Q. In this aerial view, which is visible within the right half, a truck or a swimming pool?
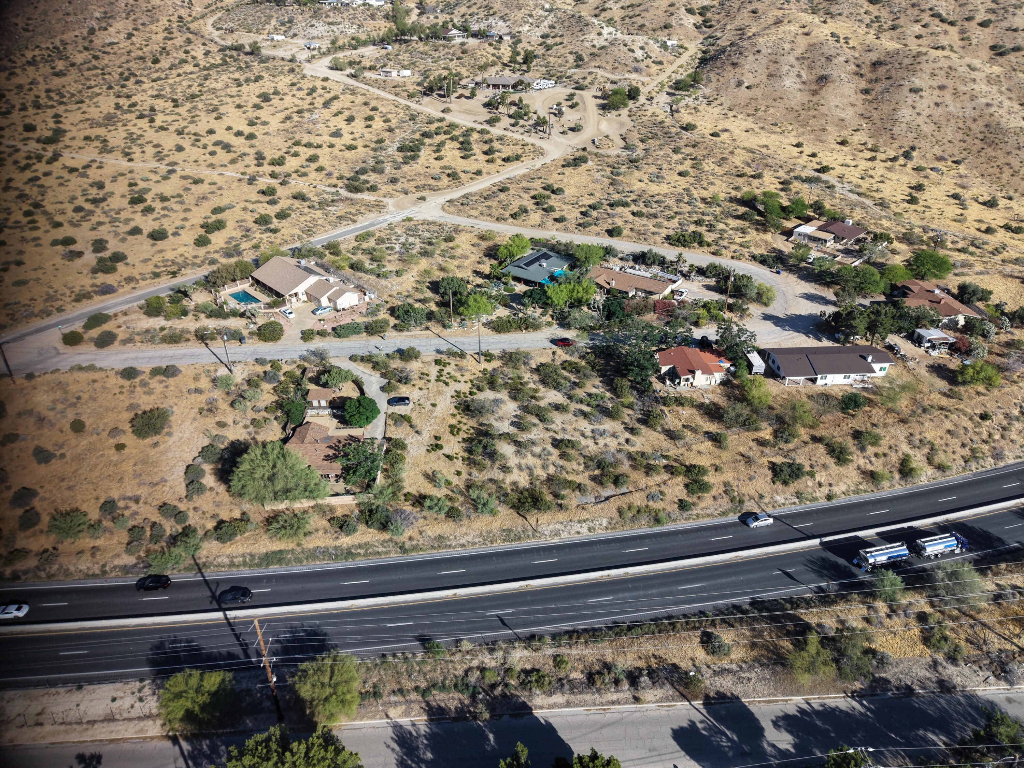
truck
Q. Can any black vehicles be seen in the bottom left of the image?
Yes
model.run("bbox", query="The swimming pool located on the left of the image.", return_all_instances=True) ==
[209,282,285,309]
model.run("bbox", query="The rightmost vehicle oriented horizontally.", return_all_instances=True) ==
[908,526,971,558]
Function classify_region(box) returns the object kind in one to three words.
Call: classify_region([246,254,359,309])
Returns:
house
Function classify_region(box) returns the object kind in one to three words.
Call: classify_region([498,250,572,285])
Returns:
building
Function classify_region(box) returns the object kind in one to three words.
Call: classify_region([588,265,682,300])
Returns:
house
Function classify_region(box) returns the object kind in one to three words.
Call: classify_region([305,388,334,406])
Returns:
shed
